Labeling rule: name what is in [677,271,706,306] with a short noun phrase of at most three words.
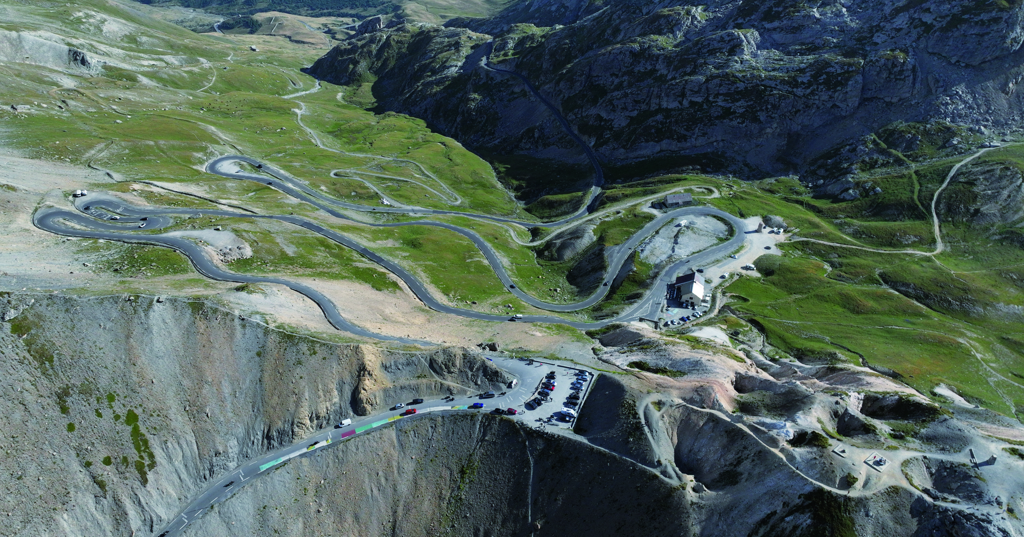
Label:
building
